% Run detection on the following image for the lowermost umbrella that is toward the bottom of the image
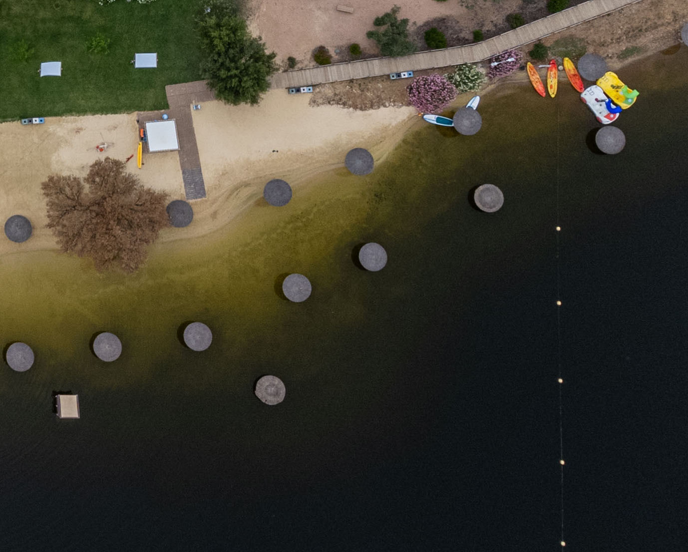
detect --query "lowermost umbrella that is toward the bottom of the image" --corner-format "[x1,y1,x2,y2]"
[256,373,285,403]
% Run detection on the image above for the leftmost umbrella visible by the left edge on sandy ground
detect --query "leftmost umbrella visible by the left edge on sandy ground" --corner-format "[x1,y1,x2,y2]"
[5,213,34,242]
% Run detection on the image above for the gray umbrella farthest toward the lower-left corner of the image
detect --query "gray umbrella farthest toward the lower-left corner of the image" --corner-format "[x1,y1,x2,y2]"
[8,340,37,369]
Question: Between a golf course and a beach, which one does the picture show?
beach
